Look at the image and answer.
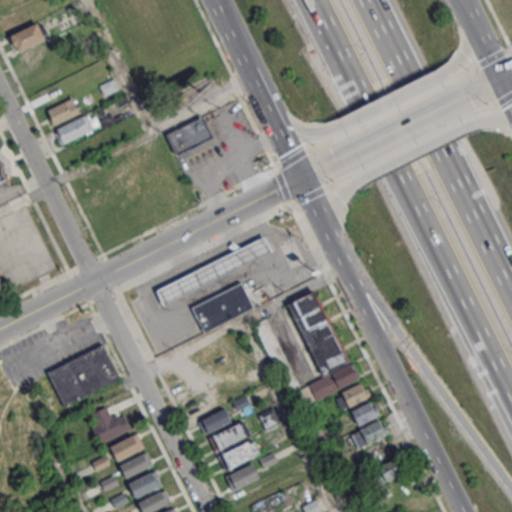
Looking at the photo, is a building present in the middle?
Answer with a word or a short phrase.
Yes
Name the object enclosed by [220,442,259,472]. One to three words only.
house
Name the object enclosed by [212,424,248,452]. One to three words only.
house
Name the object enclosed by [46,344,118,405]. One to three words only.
building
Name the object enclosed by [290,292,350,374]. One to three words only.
building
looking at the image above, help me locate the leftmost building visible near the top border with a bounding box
[10,22,44,51]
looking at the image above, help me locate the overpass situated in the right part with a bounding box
[282,28,512,254]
